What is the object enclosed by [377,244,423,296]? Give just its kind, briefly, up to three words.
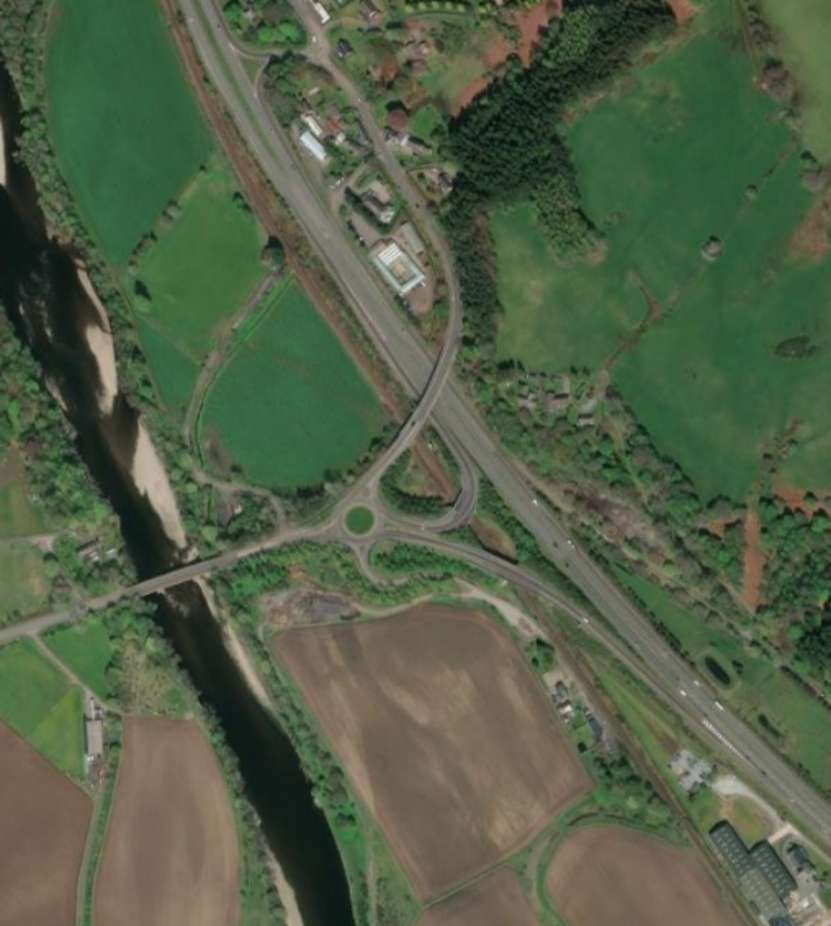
building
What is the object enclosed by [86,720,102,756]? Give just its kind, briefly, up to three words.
building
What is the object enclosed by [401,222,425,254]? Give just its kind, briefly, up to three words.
shed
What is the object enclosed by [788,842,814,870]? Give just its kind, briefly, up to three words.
house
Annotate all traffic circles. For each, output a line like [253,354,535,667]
[334,485,406,556]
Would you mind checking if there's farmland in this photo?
Yes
